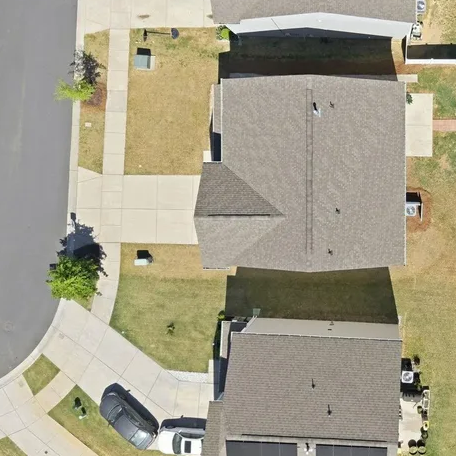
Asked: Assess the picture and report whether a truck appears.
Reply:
No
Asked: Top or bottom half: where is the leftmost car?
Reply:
bottom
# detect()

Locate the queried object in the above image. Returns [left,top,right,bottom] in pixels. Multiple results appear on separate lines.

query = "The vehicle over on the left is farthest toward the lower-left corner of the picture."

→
[98,384,160,452]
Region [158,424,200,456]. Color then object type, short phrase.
white car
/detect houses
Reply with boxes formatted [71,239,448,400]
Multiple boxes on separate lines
[196,309,401,456]
[205,0,417,39]
[192,75,407,272]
